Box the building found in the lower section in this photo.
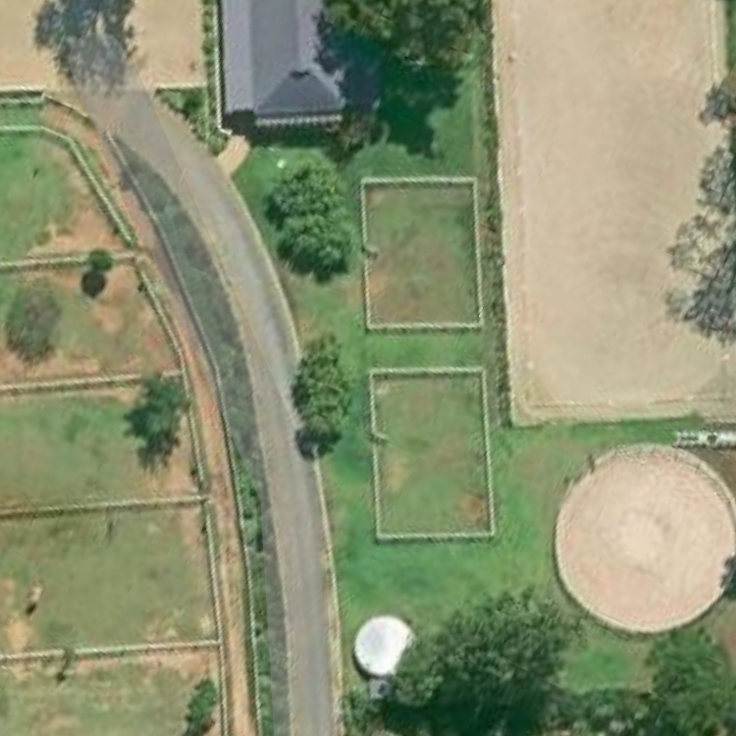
[369,679,390,700]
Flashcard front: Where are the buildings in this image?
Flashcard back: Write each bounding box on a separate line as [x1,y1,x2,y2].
[222,0,346,126]
[369,679,390,700]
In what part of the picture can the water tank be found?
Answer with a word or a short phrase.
bottom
